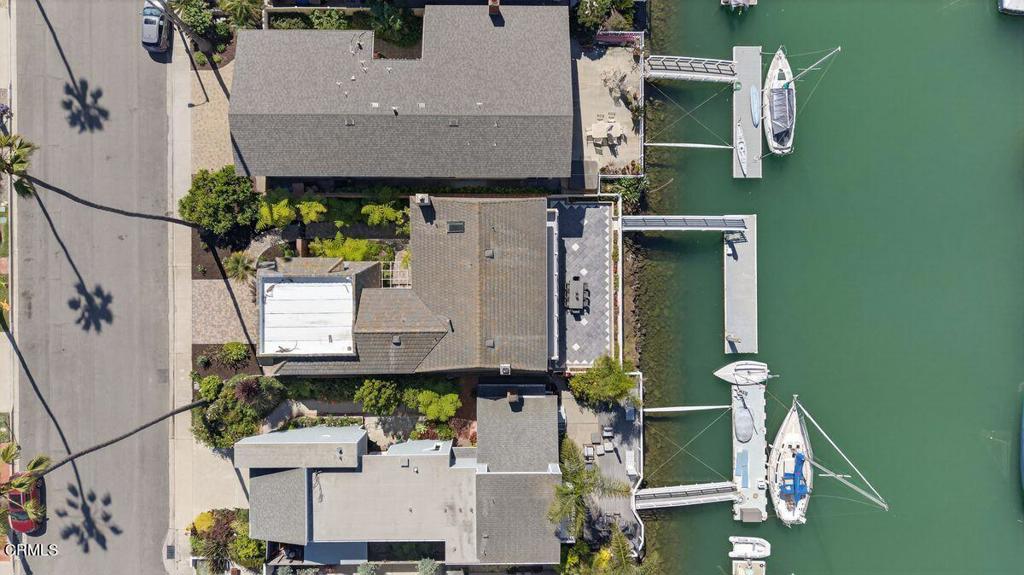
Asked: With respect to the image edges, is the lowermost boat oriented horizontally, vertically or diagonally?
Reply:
horizontally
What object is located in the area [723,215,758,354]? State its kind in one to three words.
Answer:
pier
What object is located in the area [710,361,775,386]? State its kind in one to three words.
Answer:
boat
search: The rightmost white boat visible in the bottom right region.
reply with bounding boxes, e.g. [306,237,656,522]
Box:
[765,397,888,525]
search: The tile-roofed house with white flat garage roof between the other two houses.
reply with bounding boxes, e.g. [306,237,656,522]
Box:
[253,192,558,376]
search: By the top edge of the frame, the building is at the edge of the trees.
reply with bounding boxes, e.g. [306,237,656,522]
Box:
[228,0,574,181]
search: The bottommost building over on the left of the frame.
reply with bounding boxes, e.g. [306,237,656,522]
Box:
[235,379,571,566]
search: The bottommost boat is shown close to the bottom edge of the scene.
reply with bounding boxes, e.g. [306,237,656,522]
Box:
[729,536,771,558]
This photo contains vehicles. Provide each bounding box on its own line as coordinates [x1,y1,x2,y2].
[5,469,42,534]
[138,0,173,53]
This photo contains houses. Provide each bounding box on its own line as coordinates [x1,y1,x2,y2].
[228,0,574,181]
[253,192,558,376]
[235,379,571,566]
